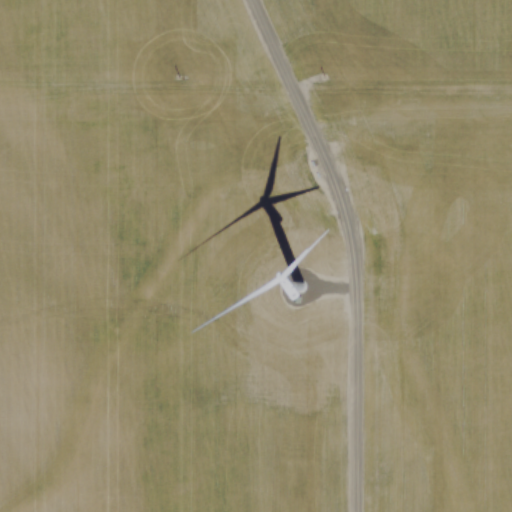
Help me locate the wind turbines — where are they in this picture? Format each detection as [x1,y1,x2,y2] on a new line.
[194,232,329,332]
